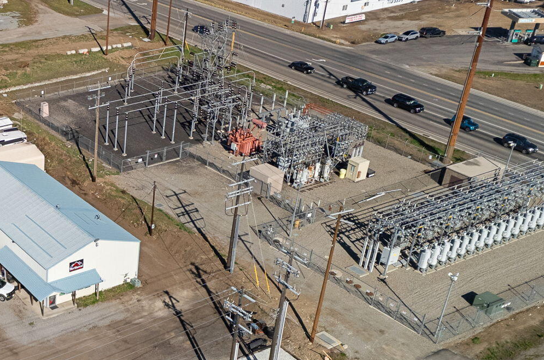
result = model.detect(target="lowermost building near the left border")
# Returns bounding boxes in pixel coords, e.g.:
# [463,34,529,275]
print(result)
[0,161,144,328]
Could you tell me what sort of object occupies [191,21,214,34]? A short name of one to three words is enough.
vehicle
